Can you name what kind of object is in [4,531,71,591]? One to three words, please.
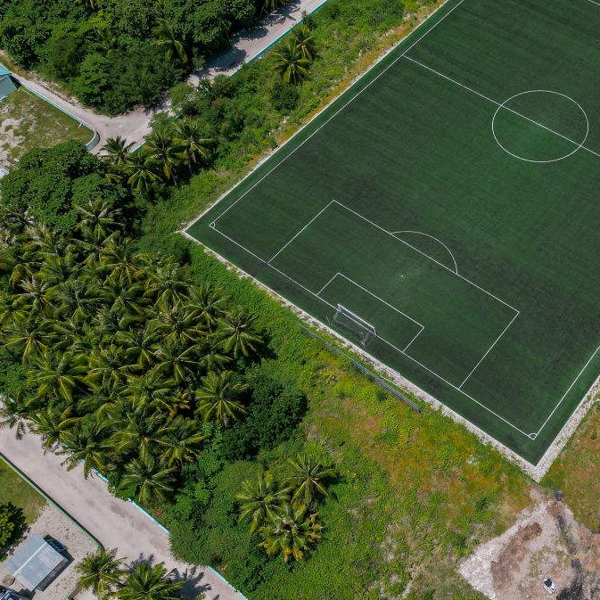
shed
